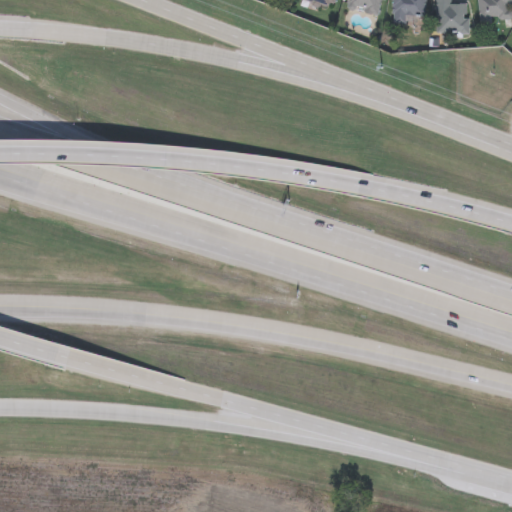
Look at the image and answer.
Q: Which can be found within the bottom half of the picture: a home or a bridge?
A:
bridge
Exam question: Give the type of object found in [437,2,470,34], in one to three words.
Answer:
house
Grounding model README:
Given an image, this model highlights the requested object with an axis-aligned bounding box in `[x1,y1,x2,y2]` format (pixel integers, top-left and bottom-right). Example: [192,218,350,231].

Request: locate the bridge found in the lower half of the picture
[0,326,66,370]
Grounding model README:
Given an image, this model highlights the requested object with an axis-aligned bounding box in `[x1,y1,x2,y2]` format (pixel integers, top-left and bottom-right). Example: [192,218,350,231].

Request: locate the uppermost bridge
[0,139,208,172]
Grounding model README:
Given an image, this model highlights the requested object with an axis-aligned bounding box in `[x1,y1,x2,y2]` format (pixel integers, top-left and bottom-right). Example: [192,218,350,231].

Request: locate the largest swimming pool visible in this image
[350,14,372,28]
